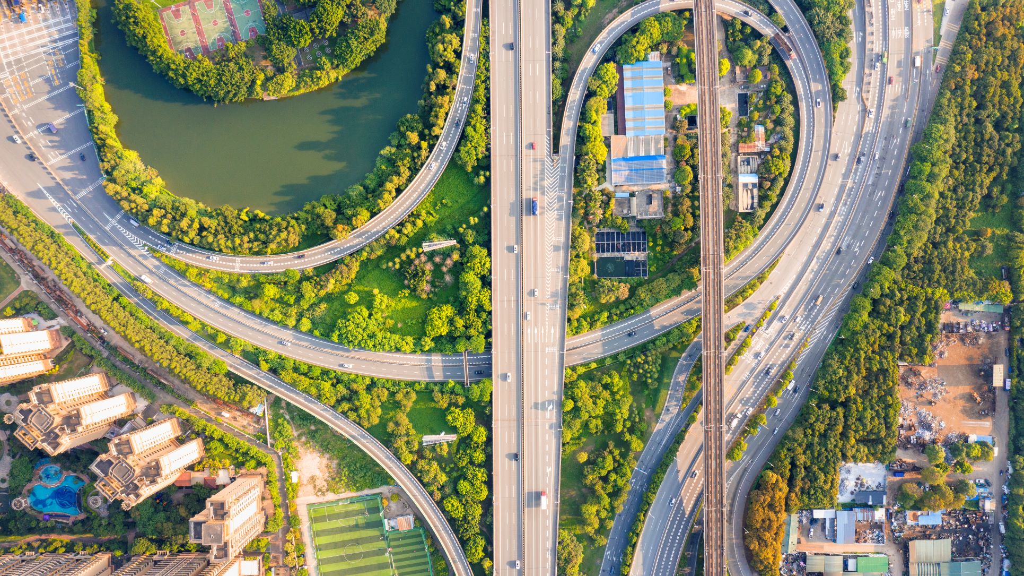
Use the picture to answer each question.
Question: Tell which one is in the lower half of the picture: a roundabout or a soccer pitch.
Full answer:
The feature located in the lower half of the picture is a soccer pitch.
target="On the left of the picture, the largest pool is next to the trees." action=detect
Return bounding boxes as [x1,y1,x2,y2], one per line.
[27,474,86,515]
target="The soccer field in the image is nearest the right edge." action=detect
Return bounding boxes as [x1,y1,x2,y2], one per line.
[389,529,431,576]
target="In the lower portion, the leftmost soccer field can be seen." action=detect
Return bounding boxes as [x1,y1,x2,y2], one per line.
[311,497,393,576]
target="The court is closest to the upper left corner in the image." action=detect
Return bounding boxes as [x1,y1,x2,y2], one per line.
[163,6,203,60]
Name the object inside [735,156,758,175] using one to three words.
shed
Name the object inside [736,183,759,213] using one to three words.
shed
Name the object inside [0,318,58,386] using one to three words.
building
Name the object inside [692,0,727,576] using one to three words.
bridge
